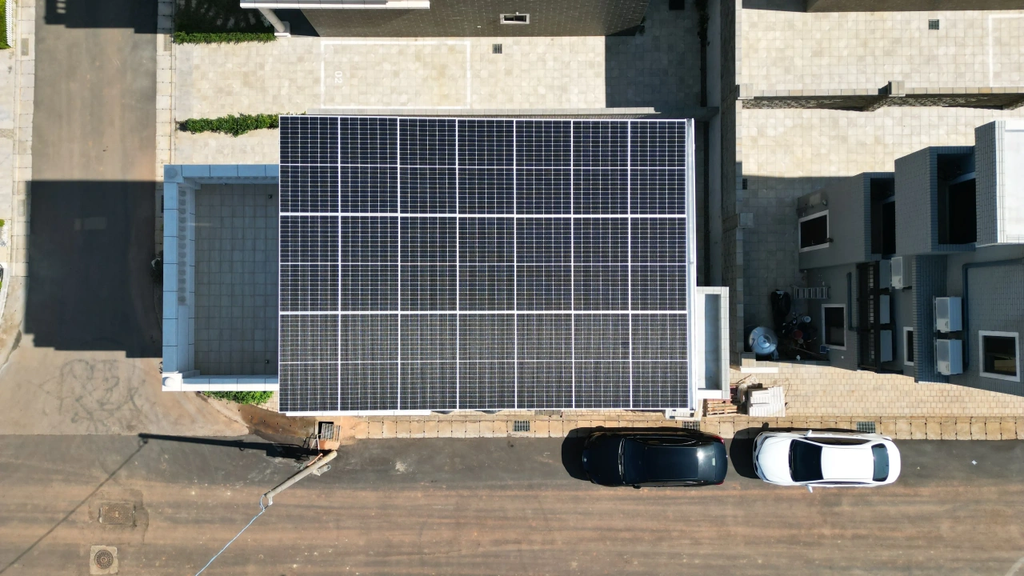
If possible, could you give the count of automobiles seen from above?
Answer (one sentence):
The picture shows 2 automobiles.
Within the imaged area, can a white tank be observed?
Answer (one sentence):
No, this view has no white tank in it.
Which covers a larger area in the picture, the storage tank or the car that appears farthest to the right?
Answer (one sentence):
The car covers a greater area than the storage tank.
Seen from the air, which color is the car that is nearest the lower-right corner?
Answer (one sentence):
In this view, the car that is nearest the lower-right corner is white.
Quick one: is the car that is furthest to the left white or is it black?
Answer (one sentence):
From above, the car that is furthest to the left appears black.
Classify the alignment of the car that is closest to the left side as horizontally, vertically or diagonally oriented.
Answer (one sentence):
What the image shows is the car that is closest to the left side lying horizontally.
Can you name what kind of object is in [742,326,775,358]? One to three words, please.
storage tank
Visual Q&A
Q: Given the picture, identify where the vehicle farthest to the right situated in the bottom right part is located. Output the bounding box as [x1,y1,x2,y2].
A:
[752,427,901,494]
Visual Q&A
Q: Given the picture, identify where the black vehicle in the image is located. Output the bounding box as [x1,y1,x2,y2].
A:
[581,429,727,495]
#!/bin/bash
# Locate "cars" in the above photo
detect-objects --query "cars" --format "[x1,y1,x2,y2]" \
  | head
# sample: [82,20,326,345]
[581,429,727,495]
[752,427,901,494]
